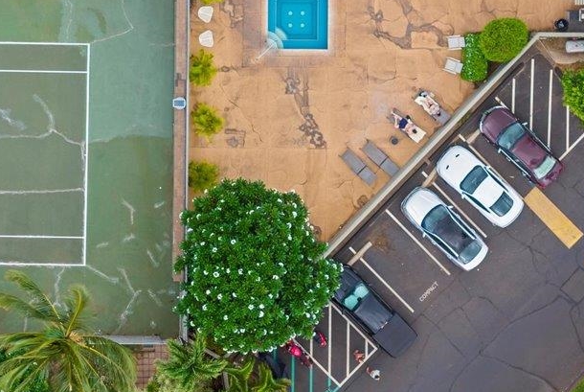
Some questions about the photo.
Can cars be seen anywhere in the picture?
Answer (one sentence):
Yes, there is a car in the image.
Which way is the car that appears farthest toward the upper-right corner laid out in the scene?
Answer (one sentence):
I'd say the car that appears farthest toward the upper-right corner is aligned at an angle in the picture.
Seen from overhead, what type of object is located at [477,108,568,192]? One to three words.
car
